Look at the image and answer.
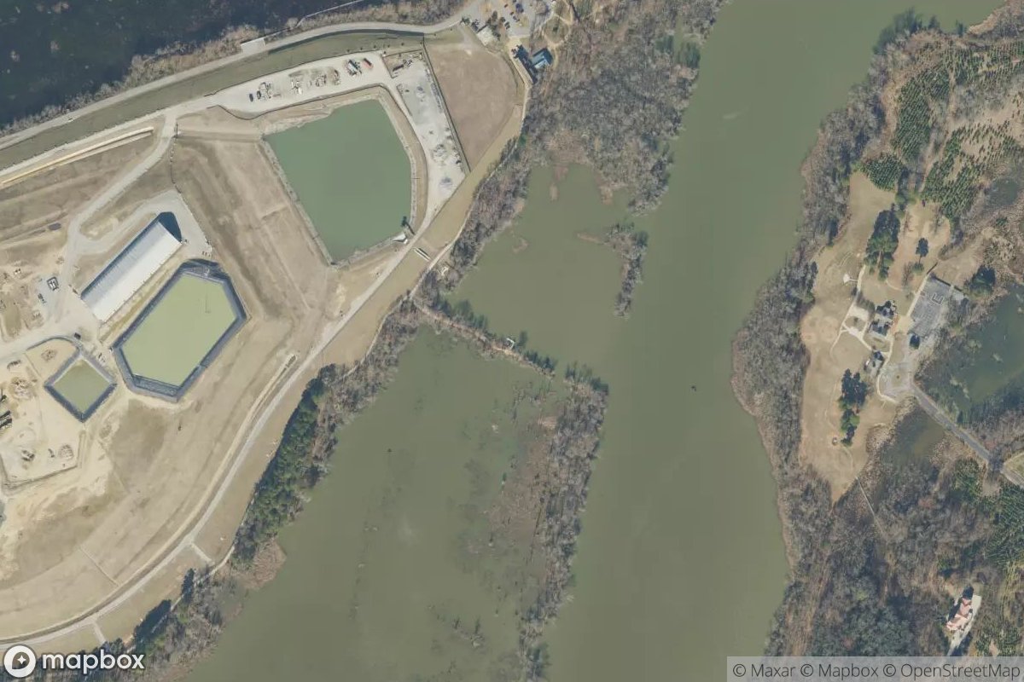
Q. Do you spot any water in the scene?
Yes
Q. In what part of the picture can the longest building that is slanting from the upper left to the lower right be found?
top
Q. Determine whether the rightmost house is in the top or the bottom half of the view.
bottom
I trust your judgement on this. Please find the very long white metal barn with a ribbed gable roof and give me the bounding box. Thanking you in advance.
[80,221,181,321]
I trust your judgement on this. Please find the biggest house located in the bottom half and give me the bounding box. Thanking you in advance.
[951,595,976,627]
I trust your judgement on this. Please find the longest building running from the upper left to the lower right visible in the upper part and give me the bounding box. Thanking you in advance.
[510,44,540,83]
